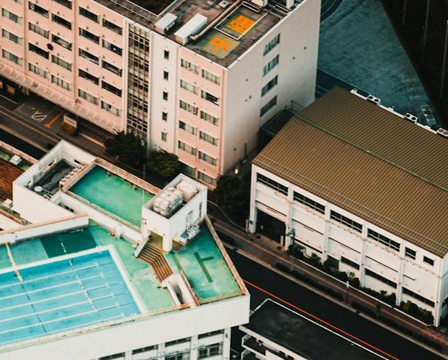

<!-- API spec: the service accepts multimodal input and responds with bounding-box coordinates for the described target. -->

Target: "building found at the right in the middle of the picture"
[248,87,448,326]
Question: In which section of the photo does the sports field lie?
top right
